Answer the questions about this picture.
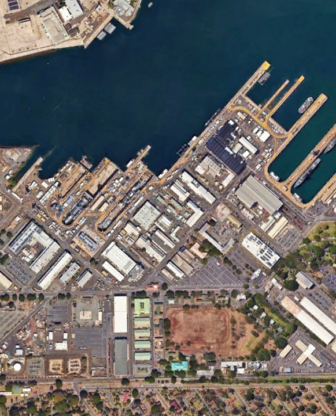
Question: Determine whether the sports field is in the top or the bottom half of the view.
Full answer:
The sports field is in the bottom half of the image.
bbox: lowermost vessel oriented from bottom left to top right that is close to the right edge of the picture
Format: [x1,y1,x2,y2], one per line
[294,158,320,188]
